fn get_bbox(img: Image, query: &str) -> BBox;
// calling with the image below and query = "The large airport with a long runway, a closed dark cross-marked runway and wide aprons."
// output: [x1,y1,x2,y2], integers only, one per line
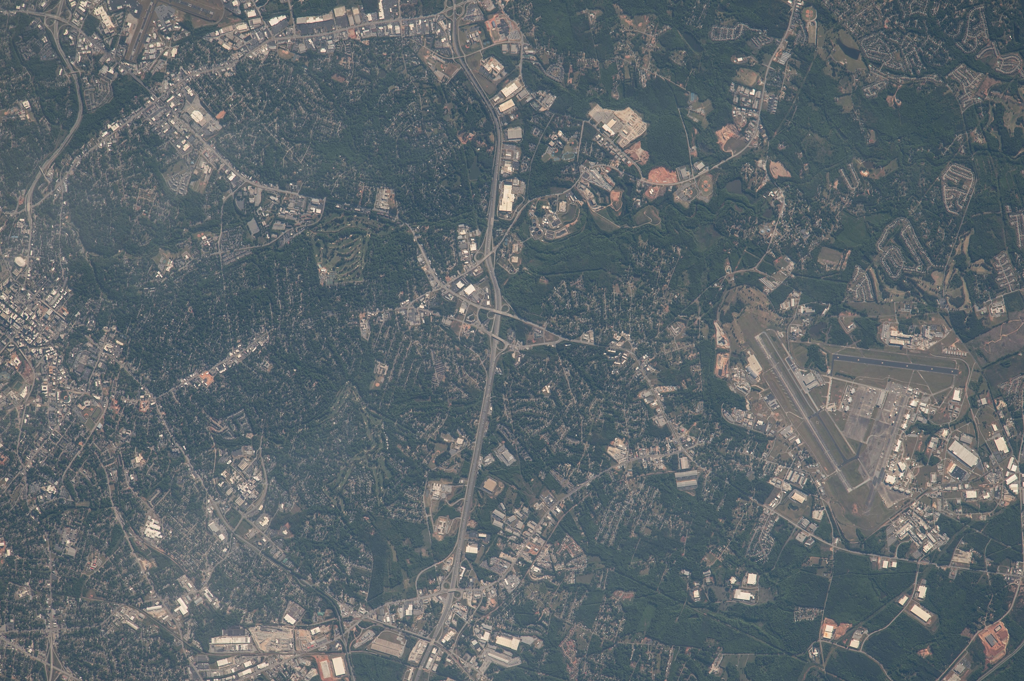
[724,287,968,542]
